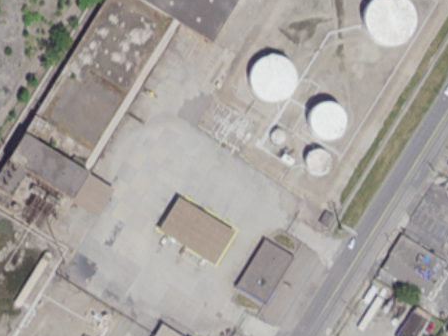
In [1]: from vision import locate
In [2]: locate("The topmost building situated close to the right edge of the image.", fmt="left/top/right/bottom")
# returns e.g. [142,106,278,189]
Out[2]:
[378,234,448,300]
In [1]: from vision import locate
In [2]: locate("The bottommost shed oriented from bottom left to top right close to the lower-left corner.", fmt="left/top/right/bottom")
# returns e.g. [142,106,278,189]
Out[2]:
[14,253,51,306]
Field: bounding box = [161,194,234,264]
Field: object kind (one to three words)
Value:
building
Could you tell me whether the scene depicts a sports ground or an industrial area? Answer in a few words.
industrial area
